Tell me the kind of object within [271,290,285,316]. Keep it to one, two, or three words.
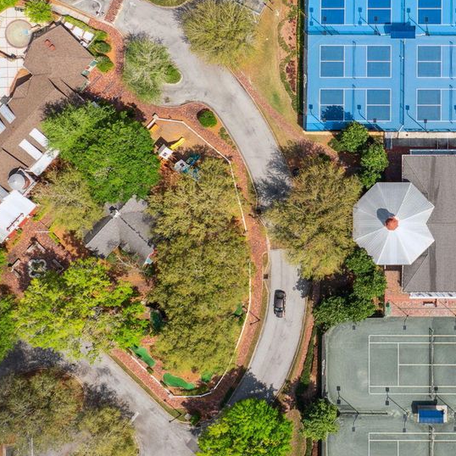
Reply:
vehicle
